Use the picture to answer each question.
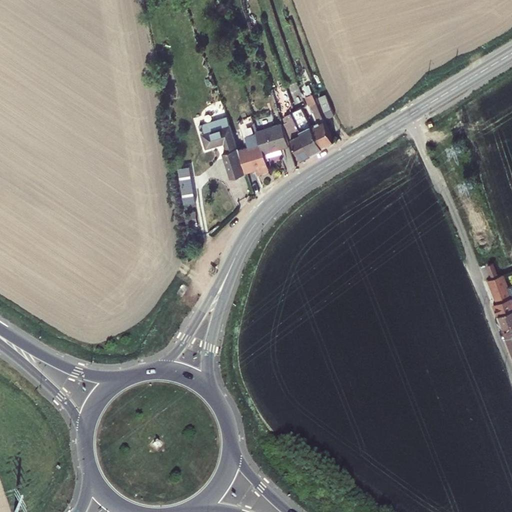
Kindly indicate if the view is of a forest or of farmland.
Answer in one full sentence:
This image shows farmland.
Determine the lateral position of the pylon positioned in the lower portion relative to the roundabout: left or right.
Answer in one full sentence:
The pylon positioned in the lower portion is to the left of the roundabout.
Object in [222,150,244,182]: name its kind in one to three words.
barn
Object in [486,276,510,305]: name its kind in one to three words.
house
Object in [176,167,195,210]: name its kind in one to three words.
shed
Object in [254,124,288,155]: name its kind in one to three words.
house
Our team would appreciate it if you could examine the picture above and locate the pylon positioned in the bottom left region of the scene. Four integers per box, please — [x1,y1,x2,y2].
[10,486,32,512]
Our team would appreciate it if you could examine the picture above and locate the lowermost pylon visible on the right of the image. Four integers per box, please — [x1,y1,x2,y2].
[458,182,474,202]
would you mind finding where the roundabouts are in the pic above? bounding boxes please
[76,362,239,512]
